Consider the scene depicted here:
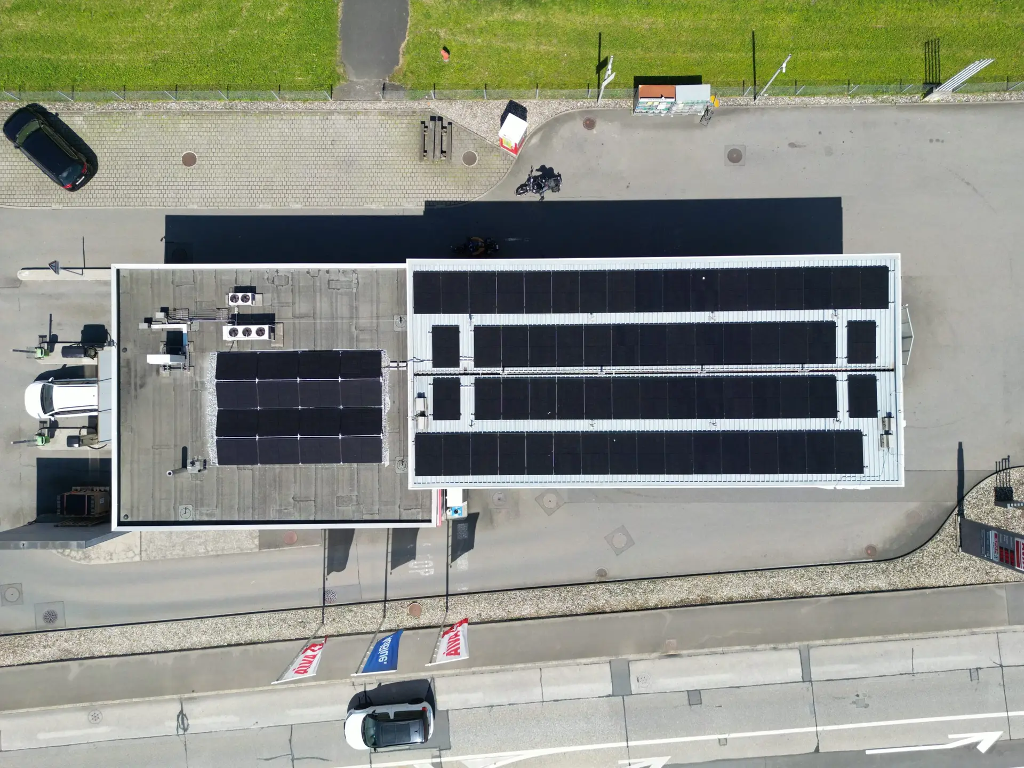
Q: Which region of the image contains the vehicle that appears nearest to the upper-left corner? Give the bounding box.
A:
[3,103,97,195]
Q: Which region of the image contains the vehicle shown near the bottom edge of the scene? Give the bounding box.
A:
[344,696,434,756]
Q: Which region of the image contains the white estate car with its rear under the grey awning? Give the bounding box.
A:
[24,375,112,426]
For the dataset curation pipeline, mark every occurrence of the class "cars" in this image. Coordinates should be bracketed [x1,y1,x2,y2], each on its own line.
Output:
[3,103,97,195]
[344,696,434,756]
[24,375,112,426]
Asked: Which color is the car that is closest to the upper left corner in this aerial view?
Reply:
black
